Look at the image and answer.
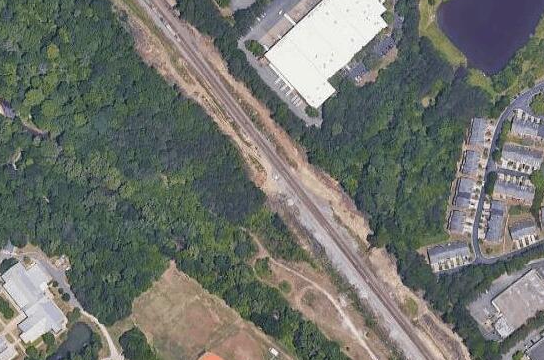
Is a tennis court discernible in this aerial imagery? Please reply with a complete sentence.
No, this view has no tennis court in it.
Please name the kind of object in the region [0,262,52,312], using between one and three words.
building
